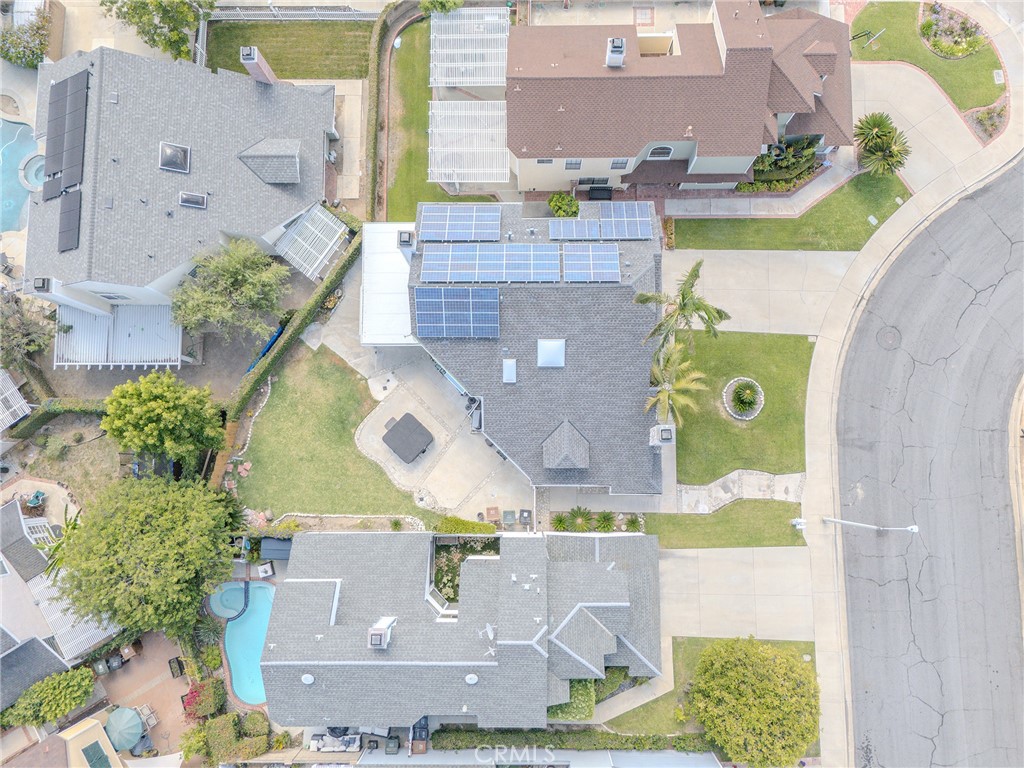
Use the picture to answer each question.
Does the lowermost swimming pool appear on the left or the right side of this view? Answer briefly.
left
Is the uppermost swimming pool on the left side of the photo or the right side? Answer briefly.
left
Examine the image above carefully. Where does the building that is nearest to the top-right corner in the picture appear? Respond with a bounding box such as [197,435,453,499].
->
[506,0,856,197]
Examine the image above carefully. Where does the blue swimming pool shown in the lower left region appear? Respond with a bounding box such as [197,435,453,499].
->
[209,576,277,708]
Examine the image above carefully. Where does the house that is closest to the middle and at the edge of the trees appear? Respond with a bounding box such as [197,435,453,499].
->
[360,202,671,495]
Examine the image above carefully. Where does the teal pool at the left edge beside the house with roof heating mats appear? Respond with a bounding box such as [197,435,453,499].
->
[0,118,45,235]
